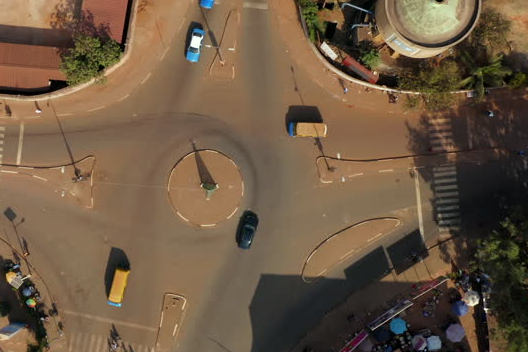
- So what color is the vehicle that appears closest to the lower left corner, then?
orange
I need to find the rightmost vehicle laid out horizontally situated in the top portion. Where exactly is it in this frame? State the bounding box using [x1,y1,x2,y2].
[286,120,326,139]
